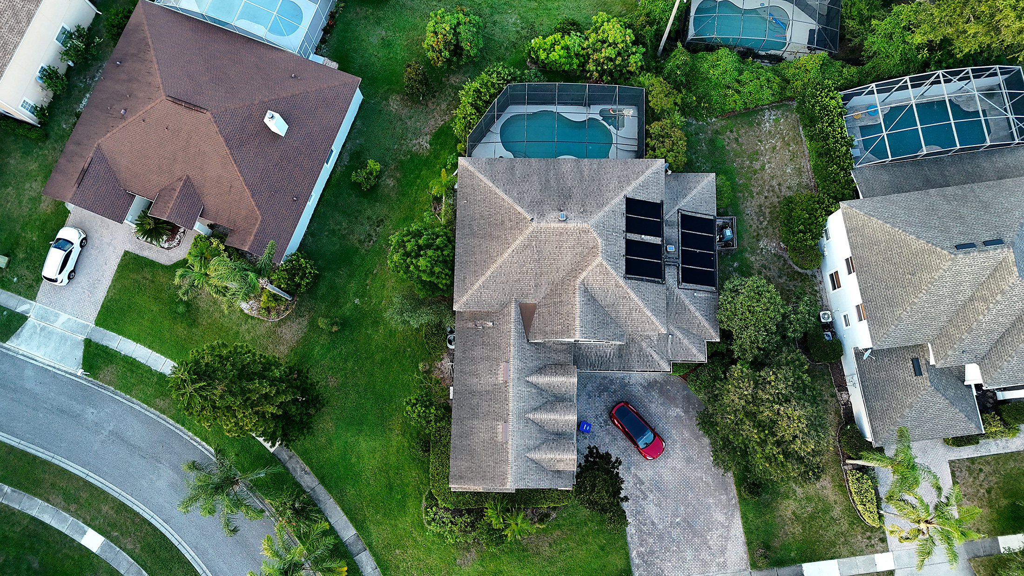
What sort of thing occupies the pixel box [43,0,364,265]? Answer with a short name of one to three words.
house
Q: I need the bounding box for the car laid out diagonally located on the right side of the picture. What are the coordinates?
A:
[606,396,666,465]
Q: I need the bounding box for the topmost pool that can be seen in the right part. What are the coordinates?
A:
[689,0,844,58]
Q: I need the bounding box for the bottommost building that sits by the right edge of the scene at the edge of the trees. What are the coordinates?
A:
[819,145,1024,448]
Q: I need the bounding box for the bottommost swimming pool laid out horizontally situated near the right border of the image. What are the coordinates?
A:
[847,80,1024,173]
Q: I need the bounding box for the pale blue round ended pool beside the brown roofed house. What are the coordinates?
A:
[173,0,348,63]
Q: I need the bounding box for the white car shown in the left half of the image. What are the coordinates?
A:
[38,226,87,288]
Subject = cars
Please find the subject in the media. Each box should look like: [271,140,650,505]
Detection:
[606,396,666,465]
[38,226,87,288]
